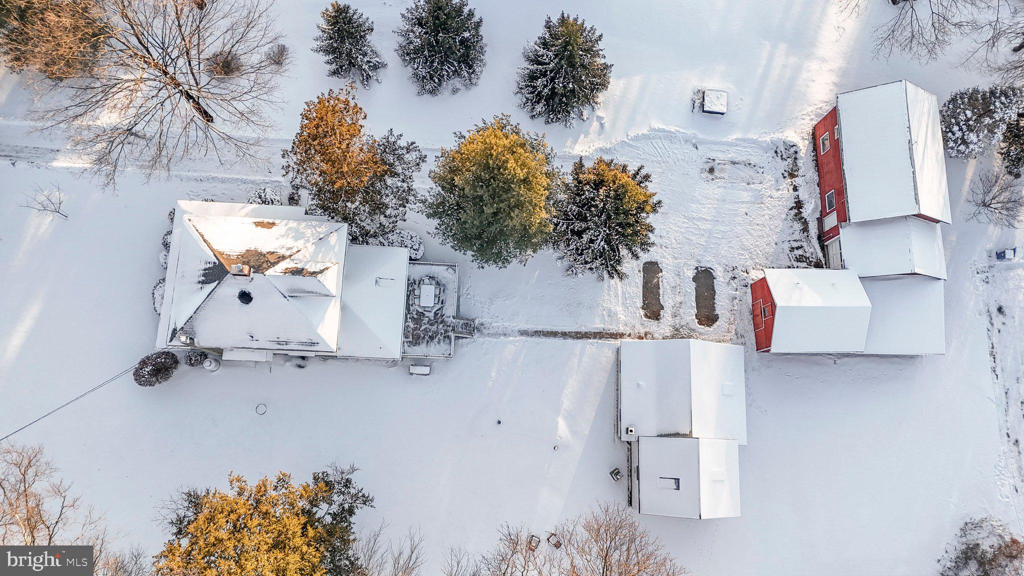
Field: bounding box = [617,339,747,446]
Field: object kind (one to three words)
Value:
building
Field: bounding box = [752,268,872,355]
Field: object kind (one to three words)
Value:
barn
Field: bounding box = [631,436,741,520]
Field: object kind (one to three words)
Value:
building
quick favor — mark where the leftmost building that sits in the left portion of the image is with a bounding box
[155,201,409,373]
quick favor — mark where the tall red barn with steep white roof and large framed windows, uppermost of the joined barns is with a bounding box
[814,79,952,225]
